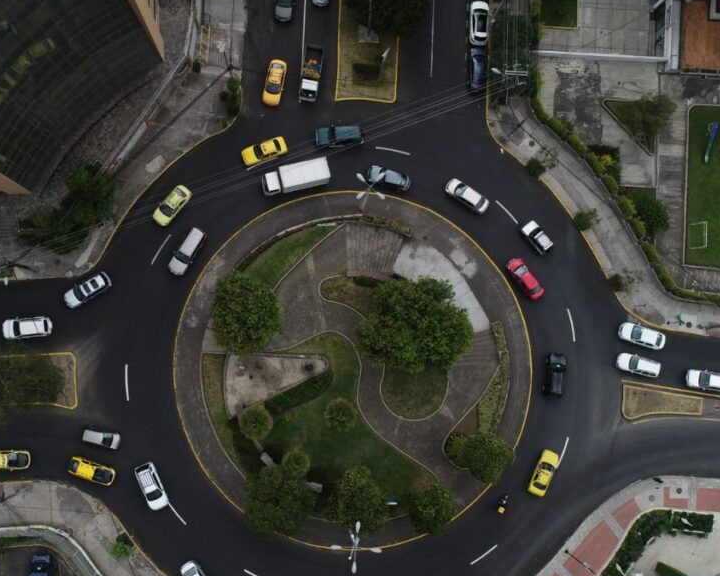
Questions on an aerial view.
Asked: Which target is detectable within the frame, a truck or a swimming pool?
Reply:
truck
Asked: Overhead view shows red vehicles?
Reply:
Yes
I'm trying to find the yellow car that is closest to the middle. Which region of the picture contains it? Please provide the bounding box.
[241,134,290,167]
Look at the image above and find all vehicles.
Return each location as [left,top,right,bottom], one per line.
[153,183,192,228]
[134,461,168,512]
[241,134,290,167]
[615,352,663,380]
[62,271,113,306]
[272,0,295,22]
[3,317,53,340]
[529,450,559,497]
[64,454,117,487]
[296,42,326,104]
[444,180,491,214]
[366,165,413,193]
[0,447,32,472]
[180,559,206,576]
[504,256,549,301]
[167,225,207,277]
[259,155,333,198]
[316,124,363,149]
[261,57,286,106]
[311,0,330,7]
[616,321,667,350]
[80,427,123,452]
[685,367,720,391]
[468,1,491,46]
[518,219,557,257]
